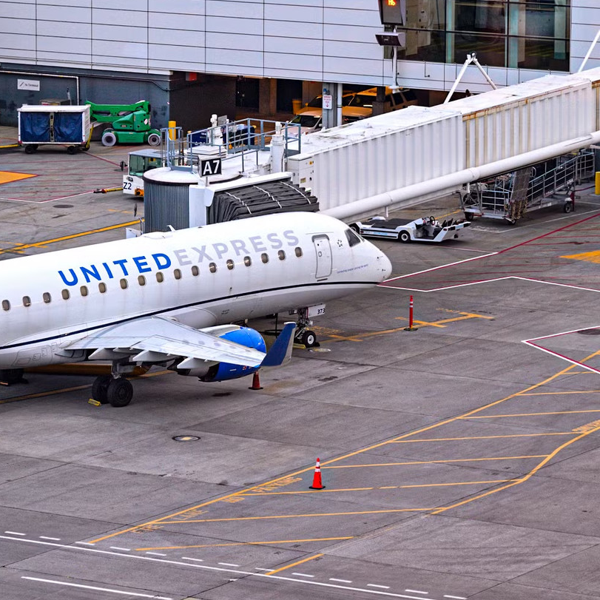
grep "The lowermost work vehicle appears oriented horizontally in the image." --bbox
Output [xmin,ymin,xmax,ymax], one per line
[357,209,488,246]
